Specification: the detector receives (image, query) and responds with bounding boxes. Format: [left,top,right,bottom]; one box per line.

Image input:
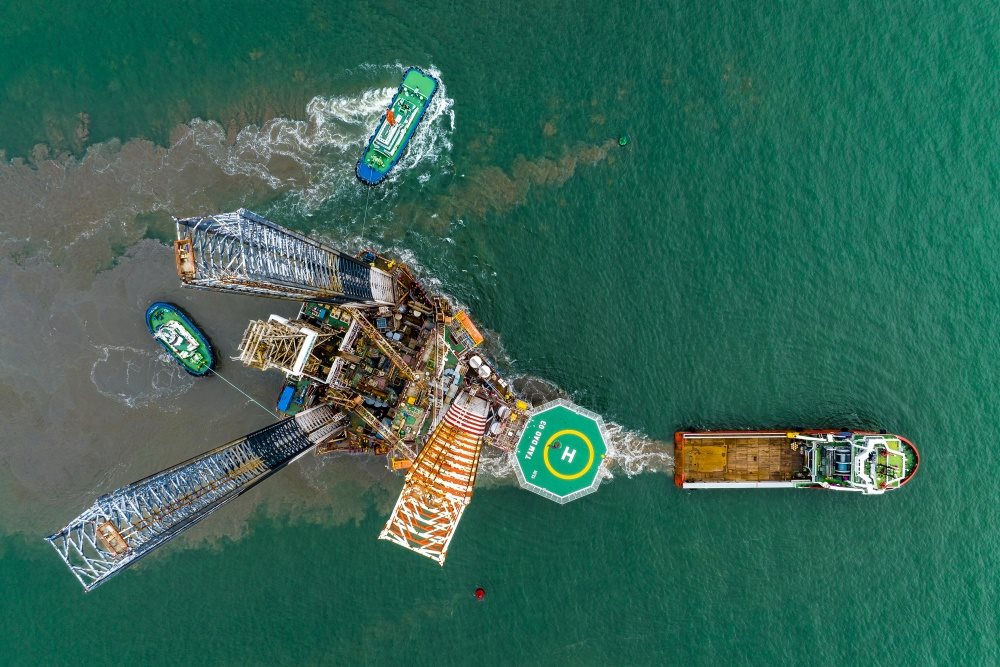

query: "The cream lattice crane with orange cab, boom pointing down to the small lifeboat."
[346,387,422,456]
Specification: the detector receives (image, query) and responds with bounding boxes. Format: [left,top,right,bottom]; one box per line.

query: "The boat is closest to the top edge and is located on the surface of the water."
[356,60,441,186]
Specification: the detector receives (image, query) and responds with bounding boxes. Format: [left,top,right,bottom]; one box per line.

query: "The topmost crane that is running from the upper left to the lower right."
[345,307,431,389]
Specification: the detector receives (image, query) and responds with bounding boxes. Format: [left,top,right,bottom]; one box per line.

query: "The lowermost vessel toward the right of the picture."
[677,430,920,494]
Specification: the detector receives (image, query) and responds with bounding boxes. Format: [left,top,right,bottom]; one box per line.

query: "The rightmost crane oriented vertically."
[431,301,447,427]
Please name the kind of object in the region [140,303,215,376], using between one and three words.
boat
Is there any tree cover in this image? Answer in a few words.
No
